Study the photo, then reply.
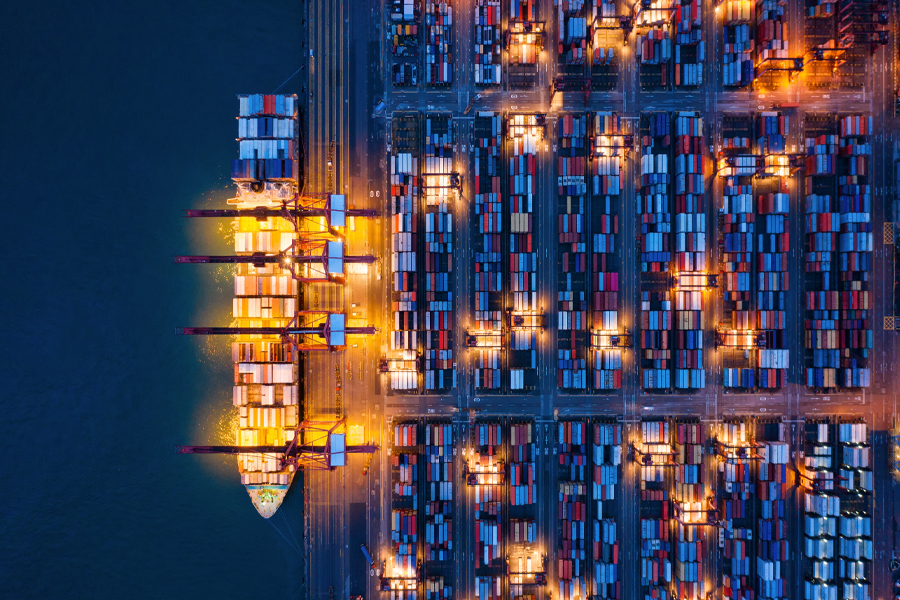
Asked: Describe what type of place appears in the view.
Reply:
port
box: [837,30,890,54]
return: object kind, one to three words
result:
container crane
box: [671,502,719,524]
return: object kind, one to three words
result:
container crane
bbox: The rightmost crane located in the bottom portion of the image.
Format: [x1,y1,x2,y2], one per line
[796,471,849,492]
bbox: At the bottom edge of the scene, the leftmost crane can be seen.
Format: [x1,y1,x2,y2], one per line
[380,567,421,591]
